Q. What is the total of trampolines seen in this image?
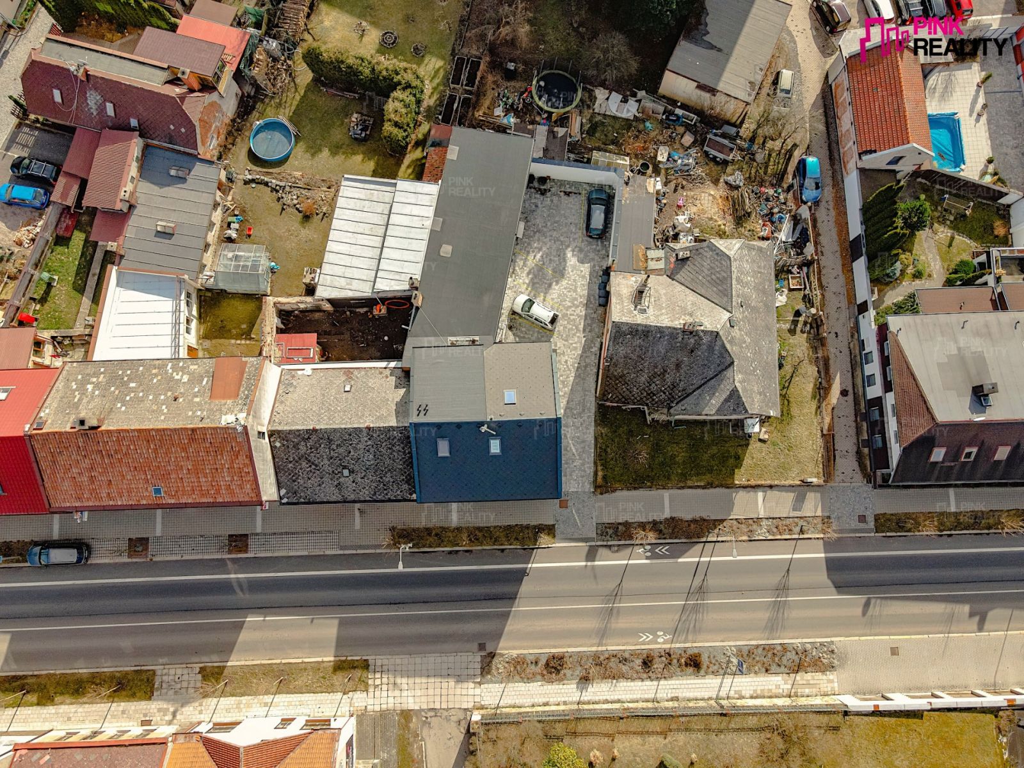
1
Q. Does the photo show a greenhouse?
Yes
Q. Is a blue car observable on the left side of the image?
Yes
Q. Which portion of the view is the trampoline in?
top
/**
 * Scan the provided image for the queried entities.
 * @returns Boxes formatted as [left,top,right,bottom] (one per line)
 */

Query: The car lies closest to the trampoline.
[584,188,609,239]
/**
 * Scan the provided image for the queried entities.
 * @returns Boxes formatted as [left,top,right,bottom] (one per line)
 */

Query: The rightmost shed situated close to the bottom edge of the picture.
[356,703,402,768]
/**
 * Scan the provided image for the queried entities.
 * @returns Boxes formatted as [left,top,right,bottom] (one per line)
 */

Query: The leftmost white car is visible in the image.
[509,291,563,332]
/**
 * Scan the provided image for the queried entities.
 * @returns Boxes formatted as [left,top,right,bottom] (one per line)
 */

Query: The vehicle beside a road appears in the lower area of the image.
[32,540,89,566]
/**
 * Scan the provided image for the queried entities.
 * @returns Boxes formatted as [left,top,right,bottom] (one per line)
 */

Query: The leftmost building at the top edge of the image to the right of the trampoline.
[661,0,793,122]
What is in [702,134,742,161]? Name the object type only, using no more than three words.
trailer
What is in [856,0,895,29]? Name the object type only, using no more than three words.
car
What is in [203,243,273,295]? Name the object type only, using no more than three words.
greenhouse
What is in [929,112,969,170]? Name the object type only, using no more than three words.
swimming pool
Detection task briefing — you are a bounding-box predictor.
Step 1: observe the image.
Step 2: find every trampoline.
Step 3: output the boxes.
[534,60,584,116]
